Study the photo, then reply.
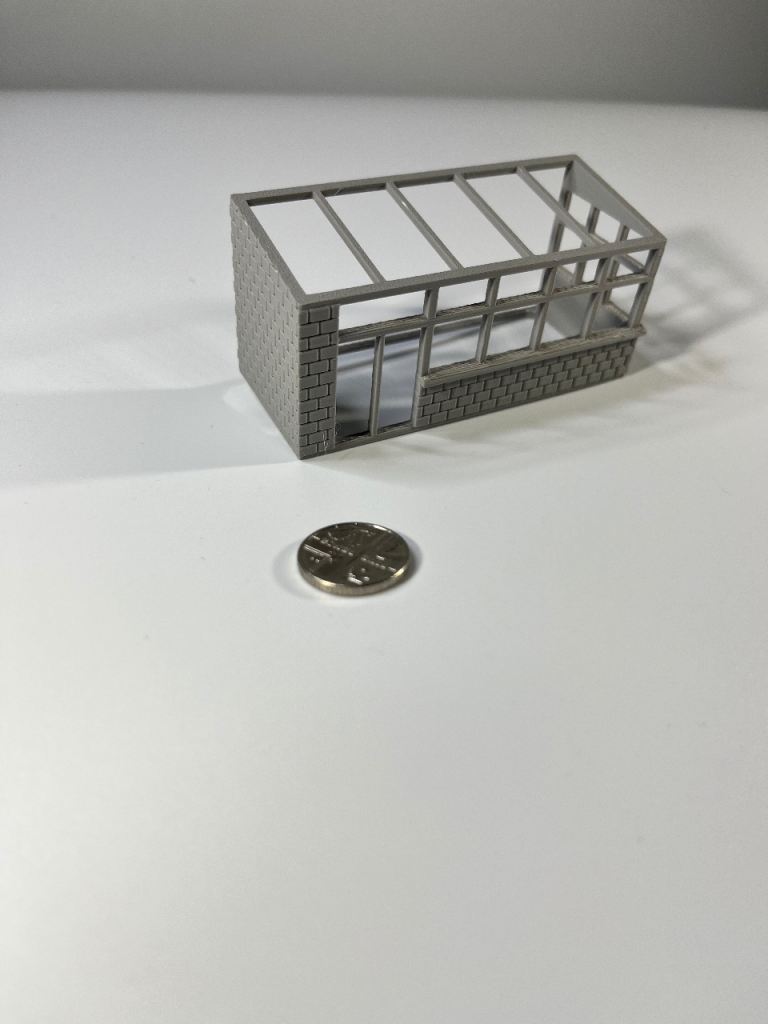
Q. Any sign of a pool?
No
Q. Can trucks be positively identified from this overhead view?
No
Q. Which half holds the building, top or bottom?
top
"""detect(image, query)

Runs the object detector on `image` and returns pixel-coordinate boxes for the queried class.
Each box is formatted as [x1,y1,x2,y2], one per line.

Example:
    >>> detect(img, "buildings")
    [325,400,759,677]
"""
[229,154,667,459]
